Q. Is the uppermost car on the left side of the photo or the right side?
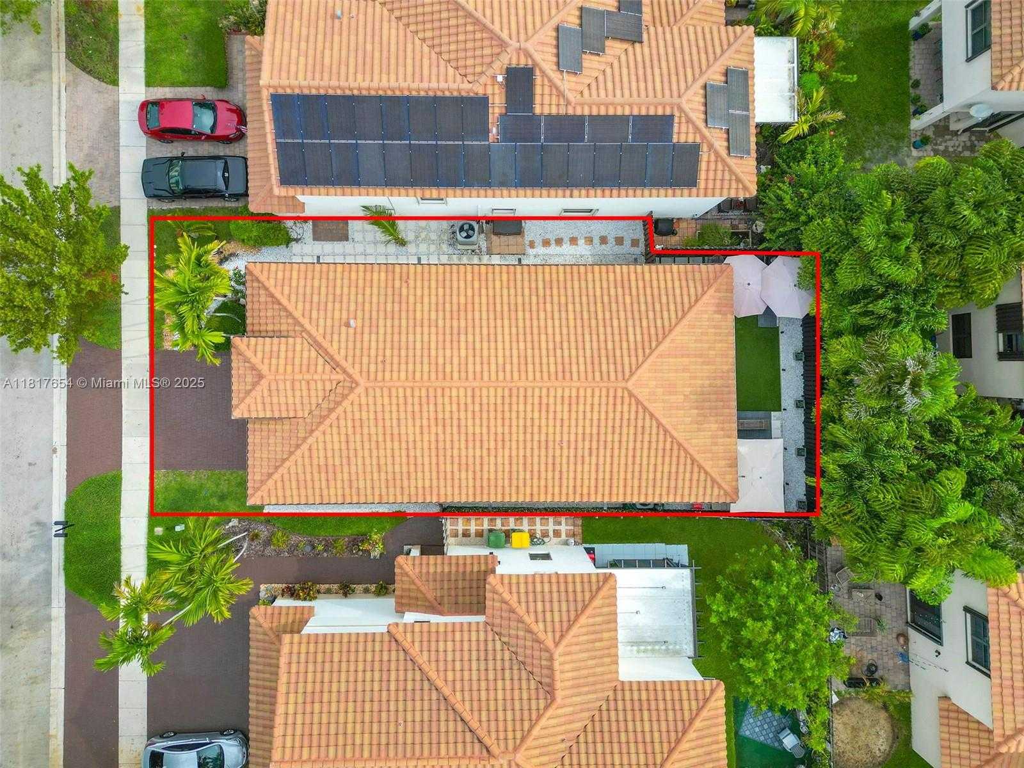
left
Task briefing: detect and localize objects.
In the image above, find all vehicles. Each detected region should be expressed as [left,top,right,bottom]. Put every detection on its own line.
[142,149,247,201]
[139,90,246,142]
[142,727,250,768]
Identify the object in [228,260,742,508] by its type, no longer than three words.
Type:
house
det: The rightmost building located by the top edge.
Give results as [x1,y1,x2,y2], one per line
[912,0,1024,166]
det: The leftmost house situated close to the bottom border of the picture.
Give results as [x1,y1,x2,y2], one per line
[248,546,731,768]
